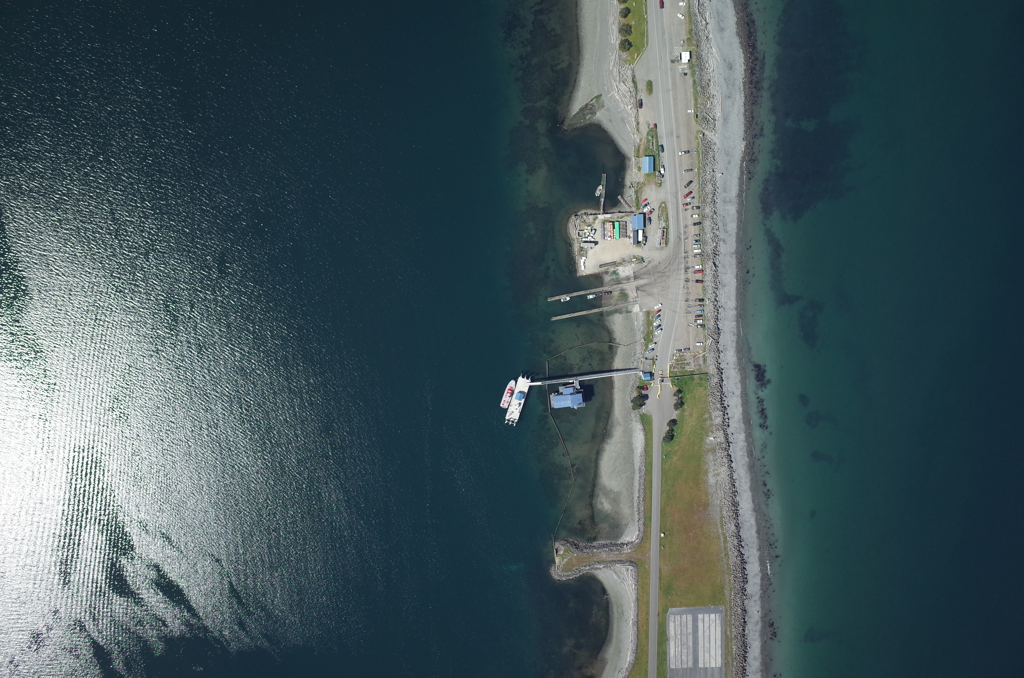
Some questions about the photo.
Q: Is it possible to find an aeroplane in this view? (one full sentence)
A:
No, the photo shows no aeroplane.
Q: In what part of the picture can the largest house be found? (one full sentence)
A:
The largest house appears toward the center of the photo.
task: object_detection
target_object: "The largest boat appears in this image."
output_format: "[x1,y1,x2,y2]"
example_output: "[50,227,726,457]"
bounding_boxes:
[500,380,514,409]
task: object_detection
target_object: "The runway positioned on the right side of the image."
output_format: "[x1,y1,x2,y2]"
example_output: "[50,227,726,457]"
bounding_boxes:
[667,606,725,678]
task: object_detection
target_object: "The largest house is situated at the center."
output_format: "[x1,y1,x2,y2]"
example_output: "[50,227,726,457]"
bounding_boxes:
[550,386,585,409]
